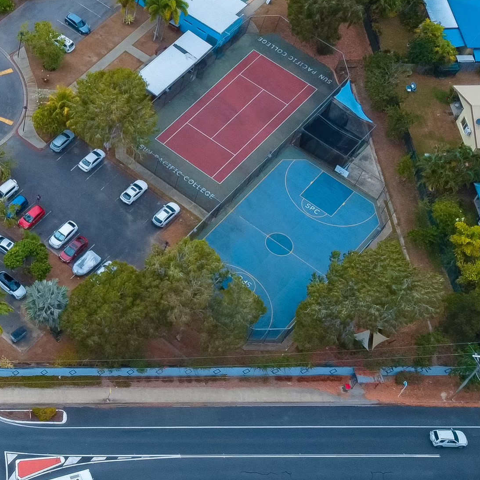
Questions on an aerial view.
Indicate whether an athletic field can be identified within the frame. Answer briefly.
Yes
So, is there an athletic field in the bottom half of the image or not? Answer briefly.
No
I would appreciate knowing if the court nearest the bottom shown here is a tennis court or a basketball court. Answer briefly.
basketball court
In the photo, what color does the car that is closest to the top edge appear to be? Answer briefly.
blue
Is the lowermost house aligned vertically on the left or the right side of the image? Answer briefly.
right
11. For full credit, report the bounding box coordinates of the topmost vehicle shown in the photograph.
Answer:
[63,10,91,36]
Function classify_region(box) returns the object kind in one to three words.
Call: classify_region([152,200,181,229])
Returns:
car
